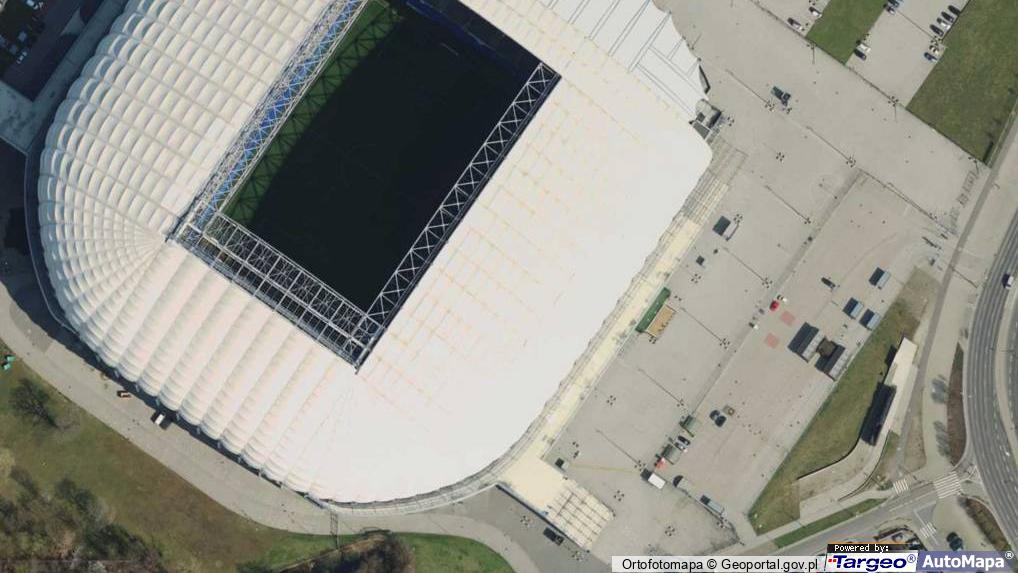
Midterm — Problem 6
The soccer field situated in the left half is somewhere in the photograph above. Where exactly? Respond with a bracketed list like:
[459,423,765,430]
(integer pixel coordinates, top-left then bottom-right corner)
[216,0,536,326]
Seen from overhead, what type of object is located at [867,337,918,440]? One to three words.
building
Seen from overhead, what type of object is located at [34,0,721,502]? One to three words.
stadium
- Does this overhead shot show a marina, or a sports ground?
sports ground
